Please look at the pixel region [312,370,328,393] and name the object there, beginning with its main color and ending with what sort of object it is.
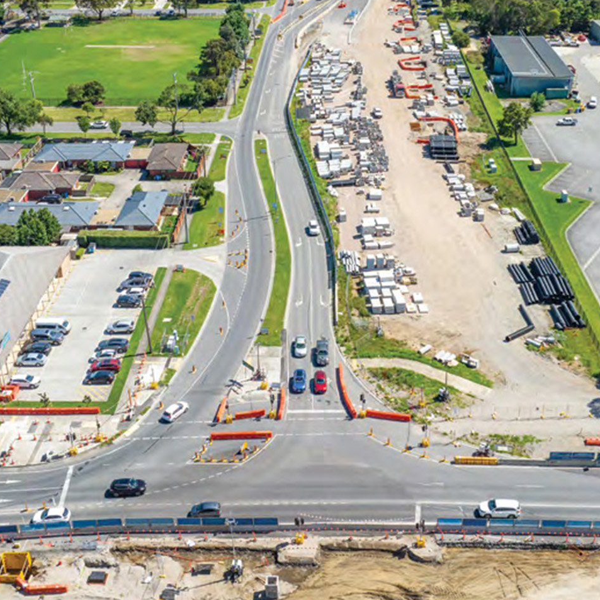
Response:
red car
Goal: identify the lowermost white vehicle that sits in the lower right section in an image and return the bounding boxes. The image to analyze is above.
[477,497,522,519]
